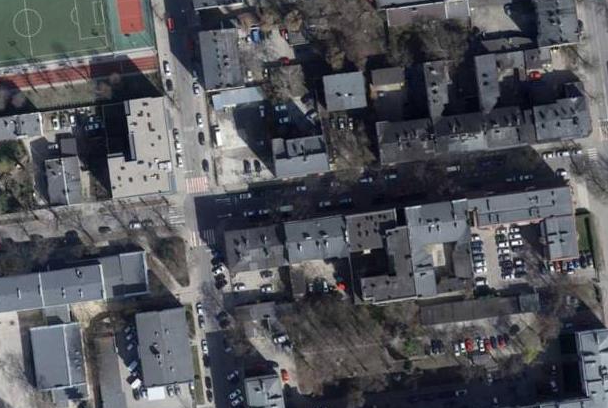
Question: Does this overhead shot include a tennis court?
No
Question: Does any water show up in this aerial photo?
No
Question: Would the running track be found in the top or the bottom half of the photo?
top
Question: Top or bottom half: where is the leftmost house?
top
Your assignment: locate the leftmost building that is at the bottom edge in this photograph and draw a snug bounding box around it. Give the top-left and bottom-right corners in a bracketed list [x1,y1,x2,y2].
[30,321,88,408]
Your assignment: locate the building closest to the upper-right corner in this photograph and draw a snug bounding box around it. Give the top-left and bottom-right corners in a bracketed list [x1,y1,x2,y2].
[532,0,579,47]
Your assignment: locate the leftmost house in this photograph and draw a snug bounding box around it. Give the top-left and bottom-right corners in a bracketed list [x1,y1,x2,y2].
[0,112,45,139]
